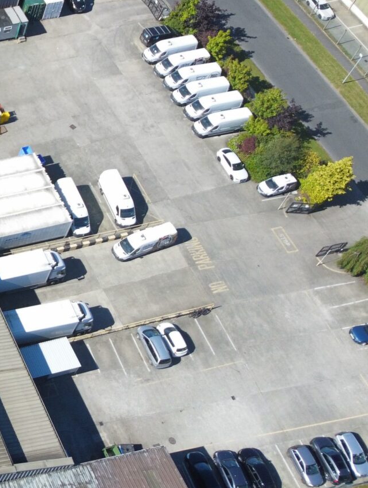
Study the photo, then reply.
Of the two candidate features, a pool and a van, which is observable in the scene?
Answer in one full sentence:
The one in the frame is a van.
